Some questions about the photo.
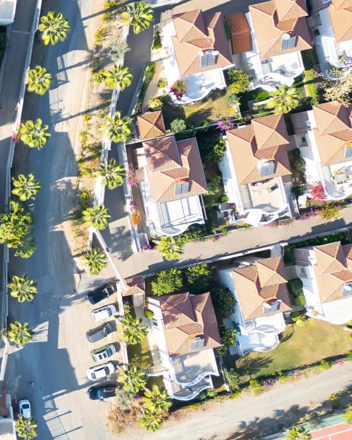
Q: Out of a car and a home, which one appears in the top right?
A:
home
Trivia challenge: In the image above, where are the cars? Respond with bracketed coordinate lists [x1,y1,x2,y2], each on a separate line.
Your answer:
[86,383,117,398]
[83,322,114,343]
[87,303,117,322]
[88,342,118,361]
[83,362,115,380]
[17,396,31,424]
[84,283,114,303]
